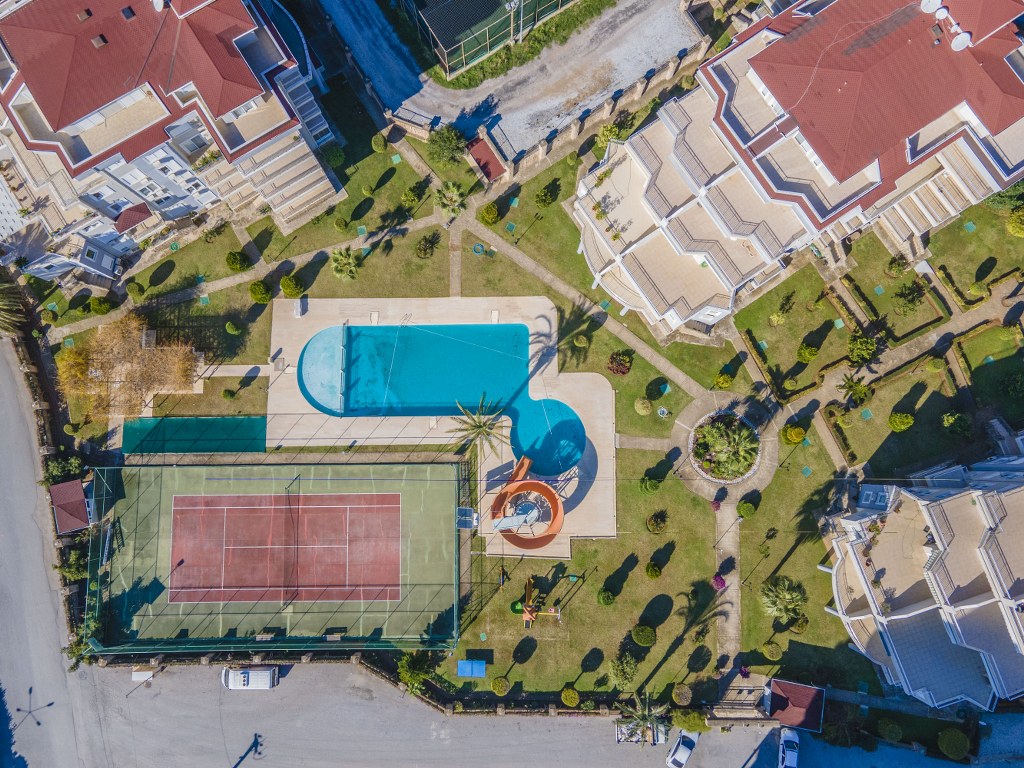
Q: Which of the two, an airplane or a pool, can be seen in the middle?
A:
pool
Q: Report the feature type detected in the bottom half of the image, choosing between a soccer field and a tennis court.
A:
tennis court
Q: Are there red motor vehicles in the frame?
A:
No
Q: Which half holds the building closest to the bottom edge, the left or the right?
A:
right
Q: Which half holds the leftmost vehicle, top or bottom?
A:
bottom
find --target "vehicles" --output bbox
[616,722,663,744]
[778,732,802,768]
[667,733,702,768]
[223,667,281,692]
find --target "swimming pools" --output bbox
[267,296,616,558]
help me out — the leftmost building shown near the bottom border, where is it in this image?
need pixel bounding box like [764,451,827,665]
[762,676,826,733]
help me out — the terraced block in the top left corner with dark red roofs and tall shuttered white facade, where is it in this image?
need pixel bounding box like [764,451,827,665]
[0,0,341,277]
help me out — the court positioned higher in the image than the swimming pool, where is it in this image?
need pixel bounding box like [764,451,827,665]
[400,0,574,79]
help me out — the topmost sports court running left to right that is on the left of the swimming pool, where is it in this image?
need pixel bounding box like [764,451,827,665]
[122,416,267,454]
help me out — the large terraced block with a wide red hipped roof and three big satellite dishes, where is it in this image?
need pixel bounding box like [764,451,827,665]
[571,0,1024,334]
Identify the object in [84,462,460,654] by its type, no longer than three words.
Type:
tennis court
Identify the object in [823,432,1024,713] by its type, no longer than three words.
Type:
building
